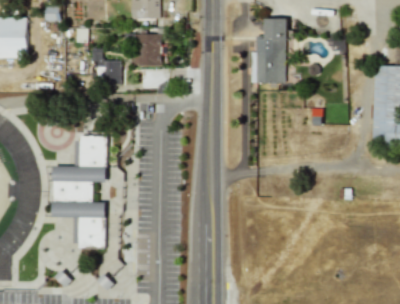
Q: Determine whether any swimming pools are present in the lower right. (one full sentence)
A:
No, no swimming pool can be made out in the lower right.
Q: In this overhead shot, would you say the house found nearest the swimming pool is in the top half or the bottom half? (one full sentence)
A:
The house found nearest the swimming pool sits in the top half of the picture.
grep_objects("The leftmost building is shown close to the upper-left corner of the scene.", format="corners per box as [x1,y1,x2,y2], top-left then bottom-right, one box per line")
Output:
[0,16,27,58]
